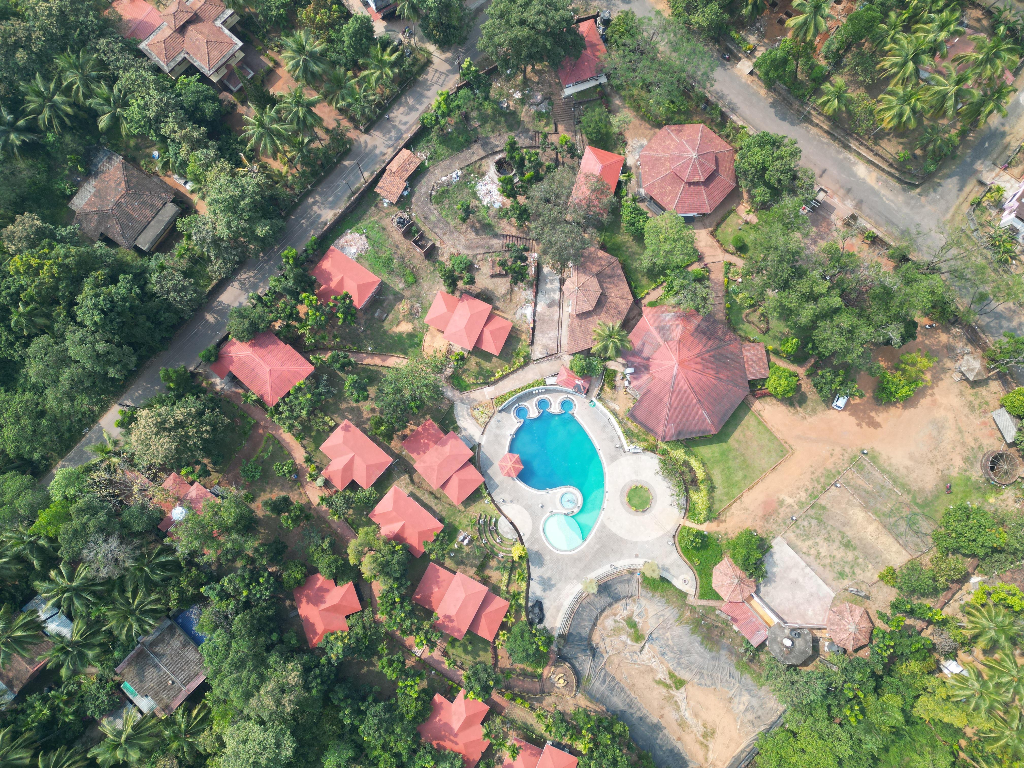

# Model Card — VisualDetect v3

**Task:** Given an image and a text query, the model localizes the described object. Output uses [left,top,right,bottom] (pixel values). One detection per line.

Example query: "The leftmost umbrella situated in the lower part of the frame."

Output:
[499,453,522,478]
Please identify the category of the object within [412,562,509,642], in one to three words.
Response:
house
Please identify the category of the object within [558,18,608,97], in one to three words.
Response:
building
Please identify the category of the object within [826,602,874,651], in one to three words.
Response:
gazebo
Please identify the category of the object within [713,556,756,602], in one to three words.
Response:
gazebo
